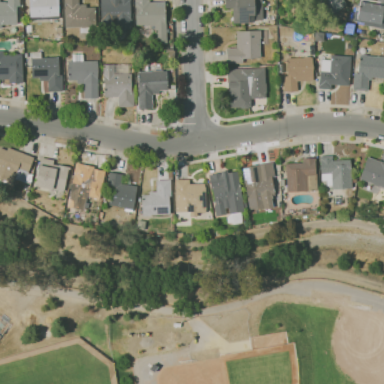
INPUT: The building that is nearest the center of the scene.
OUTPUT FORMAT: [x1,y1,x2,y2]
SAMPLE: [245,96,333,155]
[175,179,206,214]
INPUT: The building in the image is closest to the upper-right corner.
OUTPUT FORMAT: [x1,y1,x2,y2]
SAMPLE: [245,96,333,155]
[358,0,384,27]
